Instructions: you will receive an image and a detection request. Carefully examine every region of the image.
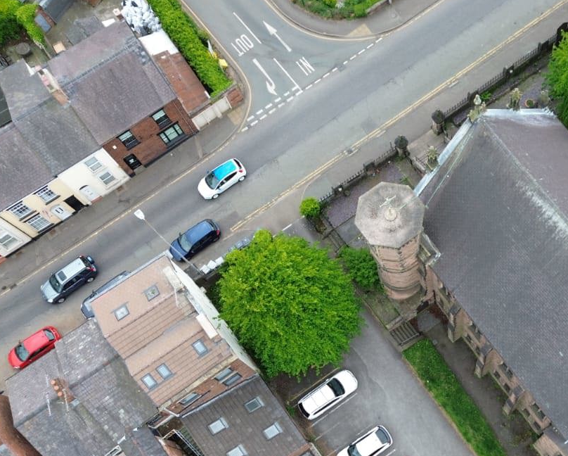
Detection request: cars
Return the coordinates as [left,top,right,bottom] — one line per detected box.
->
[37,252,101,303]
[167,215,224,262]
[292,368,361,419]
[334,423,398,456]
[196,157,249,200]
[5,322,65,370]
[80,271,133,320]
